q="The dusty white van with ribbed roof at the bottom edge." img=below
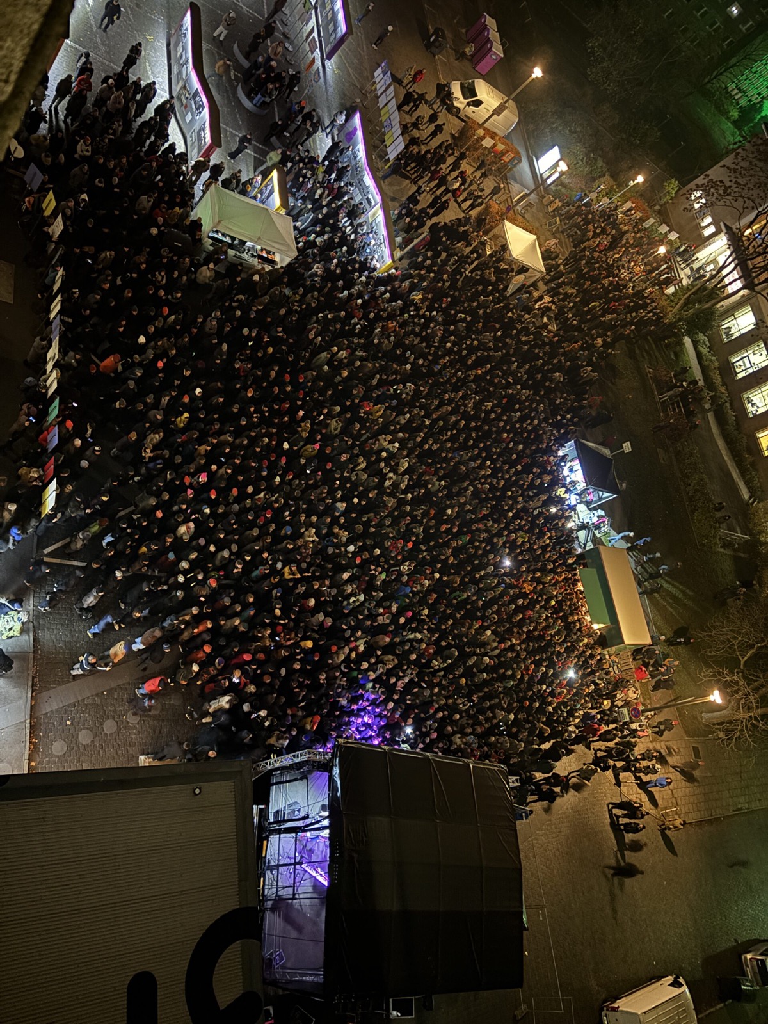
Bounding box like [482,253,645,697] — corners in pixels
[610,978,698,1024]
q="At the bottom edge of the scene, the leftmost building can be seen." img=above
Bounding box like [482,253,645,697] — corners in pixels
[0,762,262,1024]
